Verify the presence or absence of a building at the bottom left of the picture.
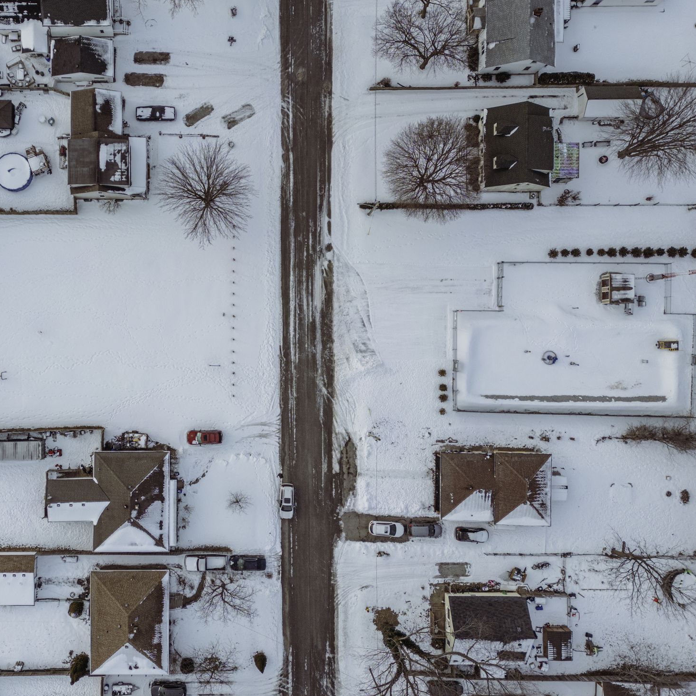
Yes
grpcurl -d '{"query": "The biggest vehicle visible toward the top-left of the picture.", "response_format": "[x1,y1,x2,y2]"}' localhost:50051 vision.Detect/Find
[136,101,175,121]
